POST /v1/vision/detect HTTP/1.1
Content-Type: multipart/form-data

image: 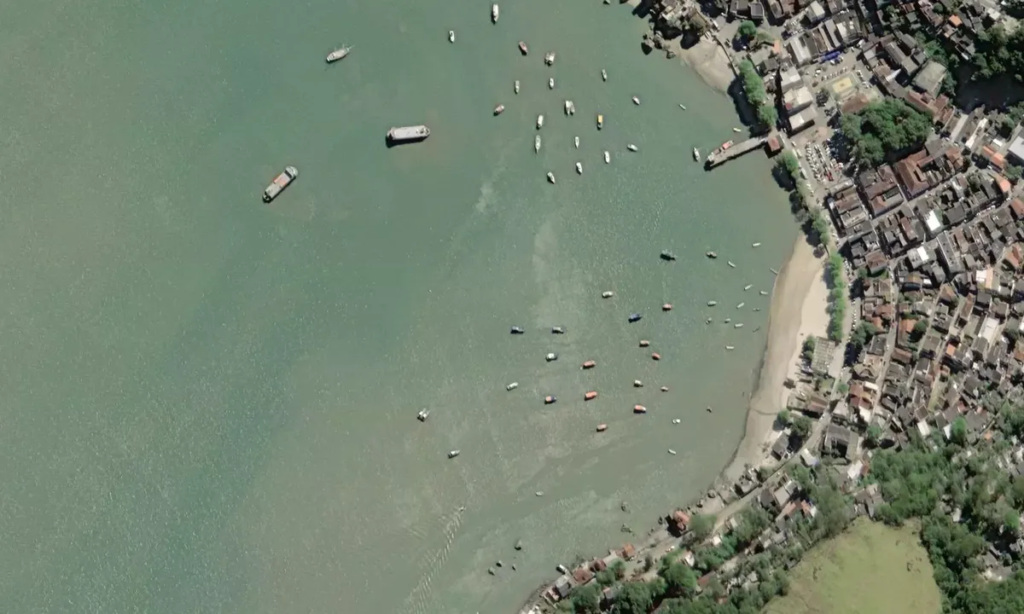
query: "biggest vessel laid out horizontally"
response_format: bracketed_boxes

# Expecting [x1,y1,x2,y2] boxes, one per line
[387,127,429,141]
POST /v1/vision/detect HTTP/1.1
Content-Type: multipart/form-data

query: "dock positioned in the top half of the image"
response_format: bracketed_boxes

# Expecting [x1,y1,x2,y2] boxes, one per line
[710,135,768,169]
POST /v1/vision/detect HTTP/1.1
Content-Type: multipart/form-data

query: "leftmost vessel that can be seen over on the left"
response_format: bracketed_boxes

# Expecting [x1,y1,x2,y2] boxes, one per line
[263,167,297,201]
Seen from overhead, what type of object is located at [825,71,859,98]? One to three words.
sports court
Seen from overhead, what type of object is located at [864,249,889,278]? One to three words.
building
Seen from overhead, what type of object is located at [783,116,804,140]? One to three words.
building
